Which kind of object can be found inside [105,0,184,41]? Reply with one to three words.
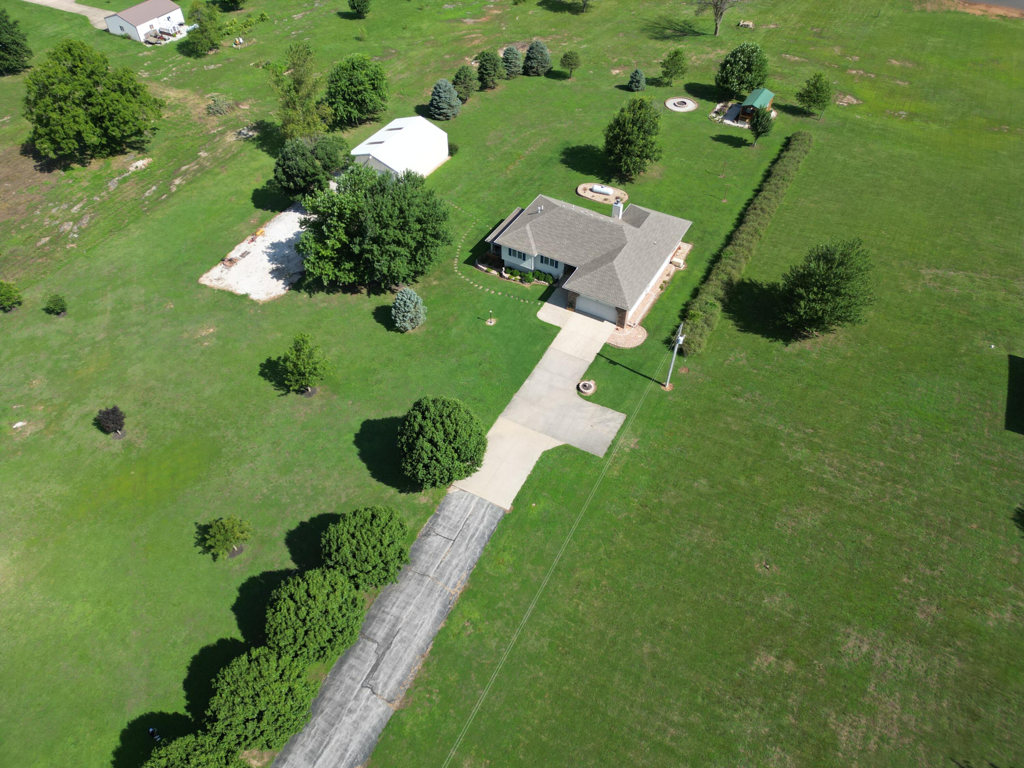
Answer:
shed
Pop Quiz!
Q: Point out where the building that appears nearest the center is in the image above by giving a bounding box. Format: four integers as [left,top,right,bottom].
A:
[484,193,691,328]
